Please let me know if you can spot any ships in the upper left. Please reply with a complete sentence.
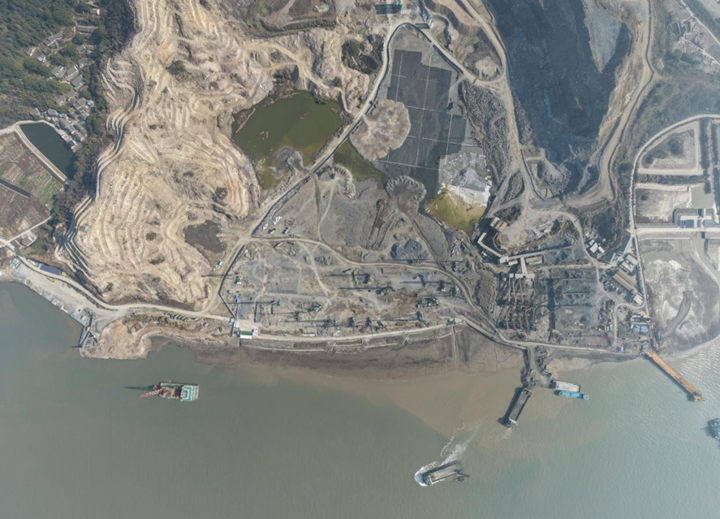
No, looking in the upper left, there is no ship.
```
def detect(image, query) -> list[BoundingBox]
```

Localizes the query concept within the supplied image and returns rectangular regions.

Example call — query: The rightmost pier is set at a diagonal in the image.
[644,349,702,400]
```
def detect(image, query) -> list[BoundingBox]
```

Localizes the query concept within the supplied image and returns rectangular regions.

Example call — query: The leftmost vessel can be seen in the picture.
[140,383,198,401]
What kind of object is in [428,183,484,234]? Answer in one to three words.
pond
